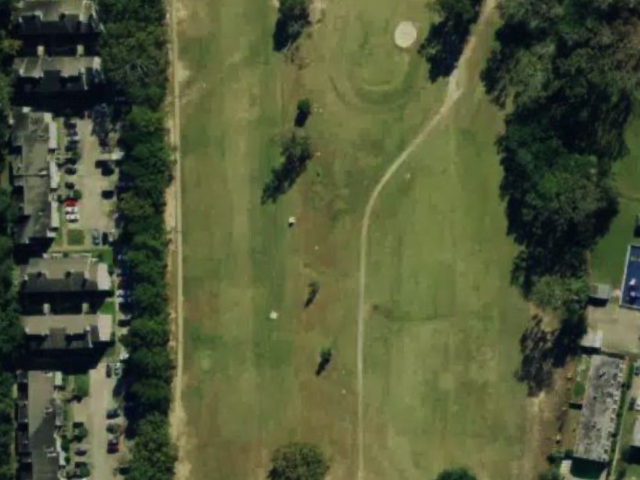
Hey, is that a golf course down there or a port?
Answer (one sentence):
The area seen from above is a golf course.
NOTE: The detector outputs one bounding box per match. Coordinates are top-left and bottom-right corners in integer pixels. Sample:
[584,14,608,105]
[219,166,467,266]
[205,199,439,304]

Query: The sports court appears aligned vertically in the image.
[620,245,640,310]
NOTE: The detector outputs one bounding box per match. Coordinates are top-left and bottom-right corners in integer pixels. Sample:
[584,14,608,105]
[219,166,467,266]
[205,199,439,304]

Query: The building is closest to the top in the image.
[13,0,100,33]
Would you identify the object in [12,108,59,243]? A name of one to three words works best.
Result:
building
